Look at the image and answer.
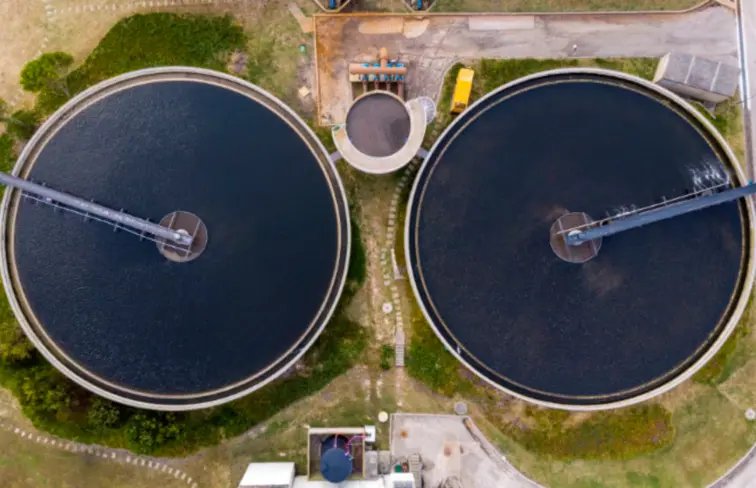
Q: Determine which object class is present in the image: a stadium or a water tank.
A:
water tank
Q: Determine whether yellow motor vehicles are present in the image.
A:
Yes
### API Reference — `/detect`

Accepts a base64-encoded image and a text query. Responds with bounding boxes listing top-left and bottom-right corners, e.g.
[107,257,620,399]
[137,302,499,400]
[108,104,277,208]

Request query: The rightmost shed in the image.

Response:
[655,49,738,102]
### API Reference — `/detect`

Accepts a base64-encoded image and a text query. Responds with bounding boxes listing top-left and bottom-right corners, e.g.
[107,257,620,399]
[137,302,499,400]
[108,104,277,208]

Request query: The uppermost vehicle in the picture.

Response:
[450,69,475,112]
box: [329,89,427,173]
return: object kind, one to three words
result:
water tank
